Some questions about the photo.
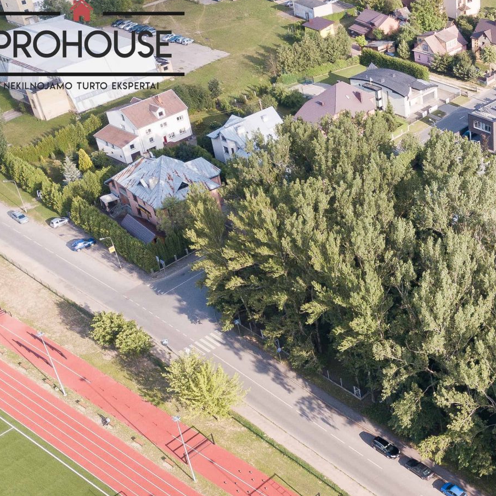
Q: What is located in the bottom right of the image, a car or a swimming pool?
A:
car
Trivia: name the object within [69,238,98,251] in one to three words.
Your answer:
vehicle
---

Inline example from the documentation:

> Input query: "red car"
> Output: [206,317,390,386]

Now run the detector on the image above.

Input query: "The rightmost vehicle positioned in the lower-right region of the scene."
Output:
[439,482,469,496]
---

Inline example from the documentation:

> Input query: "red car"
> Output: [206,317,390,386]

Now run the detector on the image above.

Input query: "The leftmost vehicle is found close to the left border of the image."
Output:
[10,210,30,223]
